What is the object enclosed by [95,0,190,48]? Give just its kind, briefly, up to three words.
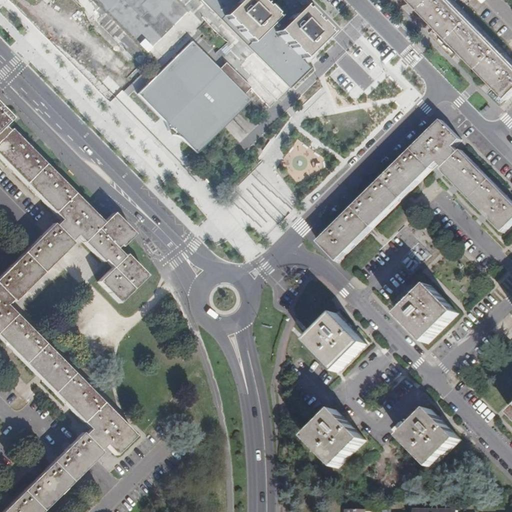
building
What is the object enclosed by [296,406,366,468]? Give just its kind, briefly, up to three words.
building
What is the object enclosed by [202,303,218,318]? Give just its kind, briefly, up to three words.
vehicle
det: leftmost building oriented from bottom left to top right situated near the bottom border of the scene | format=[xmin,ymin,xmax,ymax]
[7,434,112,512]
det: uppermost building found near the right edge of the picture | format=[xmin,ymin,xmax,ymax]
[406,0,512,100]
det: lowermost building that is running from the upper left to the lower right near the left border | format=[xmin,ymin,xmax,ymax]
[0,278,148,458]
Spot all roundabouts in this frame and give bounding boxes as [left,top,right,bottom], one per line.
[192,266,258,332]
